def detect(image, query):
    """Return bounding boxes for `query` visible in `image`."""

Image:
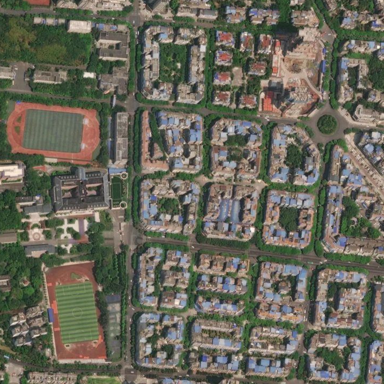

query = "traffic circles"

[308,105,348,143]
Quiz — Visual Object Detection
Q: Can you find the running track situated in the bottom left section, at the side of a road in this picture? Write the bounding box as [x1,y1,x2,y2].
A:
[46,262,106,359]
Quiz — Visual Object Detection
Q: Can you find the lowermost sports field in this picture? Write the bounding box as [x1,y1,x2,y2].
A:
[56,282,99,343]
